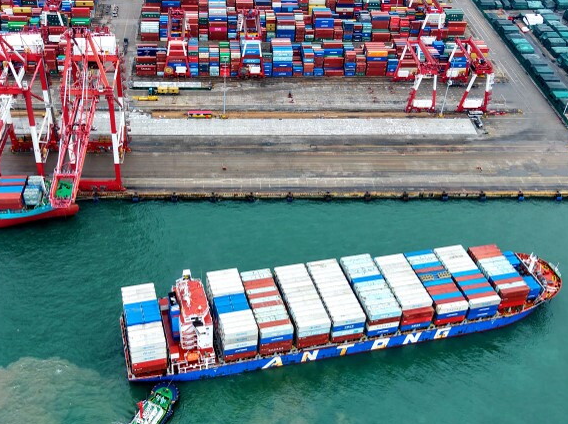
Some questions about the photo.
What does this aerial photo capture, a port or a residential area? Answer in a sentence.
This looks like a port.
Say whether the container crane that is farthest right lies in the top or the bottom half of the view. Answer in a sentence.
The container crane that is farthest right is in the top half of the image.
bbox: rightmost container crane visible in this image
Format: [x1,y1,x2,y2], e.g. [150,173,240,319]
[441,35,501,111]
